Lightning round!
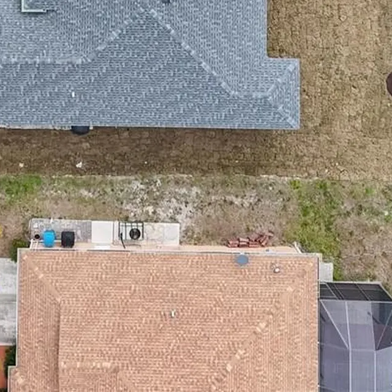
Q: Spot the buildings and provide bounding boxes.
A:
[6,238,323,392]
[0,0,301,130]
